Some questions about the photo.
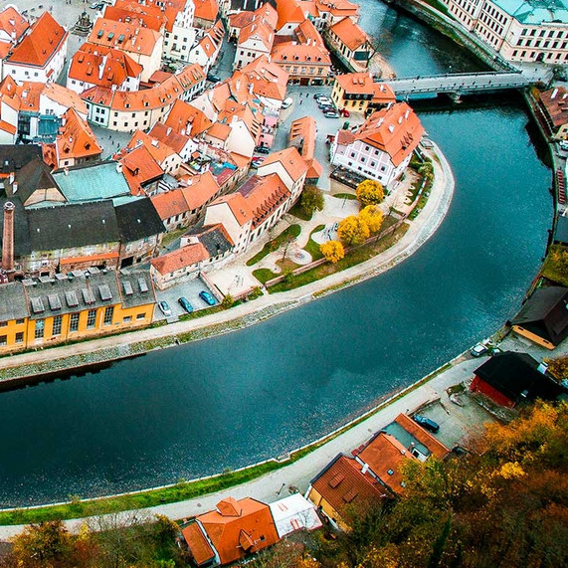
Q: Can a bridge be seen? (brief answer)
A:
Yes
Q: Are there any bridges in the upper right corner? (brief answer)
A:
Yes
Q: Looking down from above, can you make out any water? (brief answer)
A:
Yes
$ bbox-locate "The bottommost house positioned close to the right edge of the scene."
[482,353,568,407]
